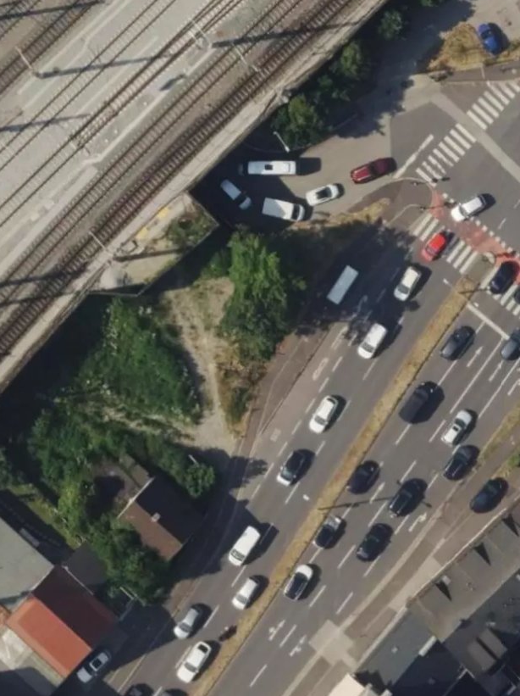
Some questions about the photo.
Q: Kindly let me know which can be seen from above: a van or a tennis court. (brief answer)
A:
van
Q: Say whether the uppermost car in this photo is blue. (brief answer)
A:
Yes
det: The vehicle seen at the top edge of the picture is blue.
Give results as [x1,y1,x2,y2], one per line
[477,21,503,57]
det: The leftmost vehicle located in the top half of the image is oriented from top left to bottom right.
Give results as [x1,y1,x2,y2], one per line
[217,176,254,214]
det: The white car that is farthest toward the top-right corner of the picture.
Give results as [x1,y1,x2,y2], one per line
[450,192,490,222]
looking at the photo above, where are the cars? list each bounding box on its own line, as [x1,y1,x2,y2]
[172,602,205,642]
[442,443,476,483]
[358,522,391,562]
[156,687,176,696]
[356,321,391,361]
[312,512,345,551]
[217,176,254,214]
[309,394,341,434]
[304,183,342,206]
[348,459,378,494]
[396,265,424,301]
[440,323,472,362]
[441,407,473,448]
[228,524,262,566]
[353,160,393,183]
[282,563,315,602]
[280,449,310,485]
[77,646,112,685]
[400,382,435,422]
[500,326,520,363]
[177,641,211,680]
[231,575,261,610]
[477,21,503,57]
[421,228,450,264]
[390,478,423,517]
[450,192,490,222]
[488,259,518,295]
[472,474,506,513]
